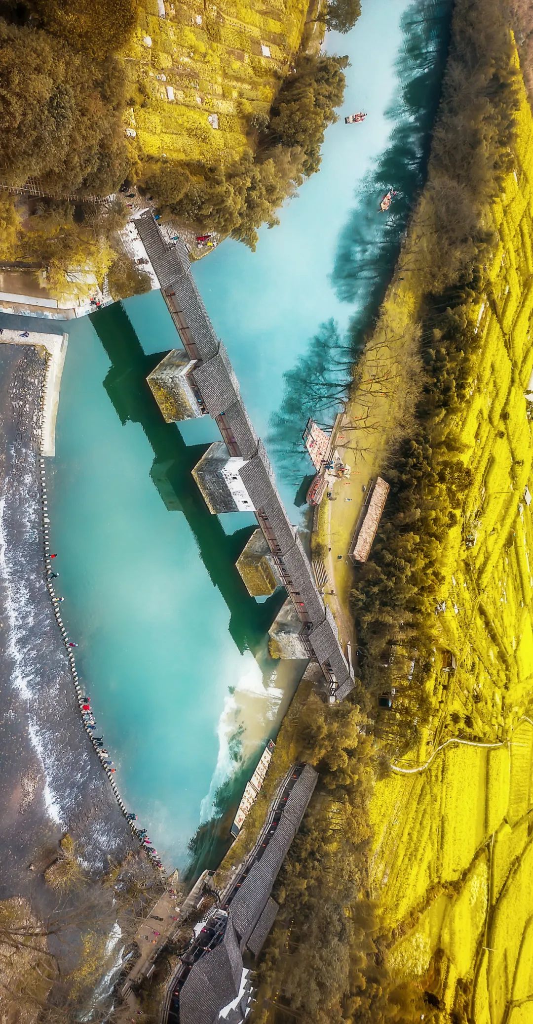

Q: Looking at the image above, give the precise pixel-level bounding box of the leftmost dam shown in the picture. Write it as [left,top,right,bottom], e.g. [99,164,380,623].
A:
[0,330,63,455]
